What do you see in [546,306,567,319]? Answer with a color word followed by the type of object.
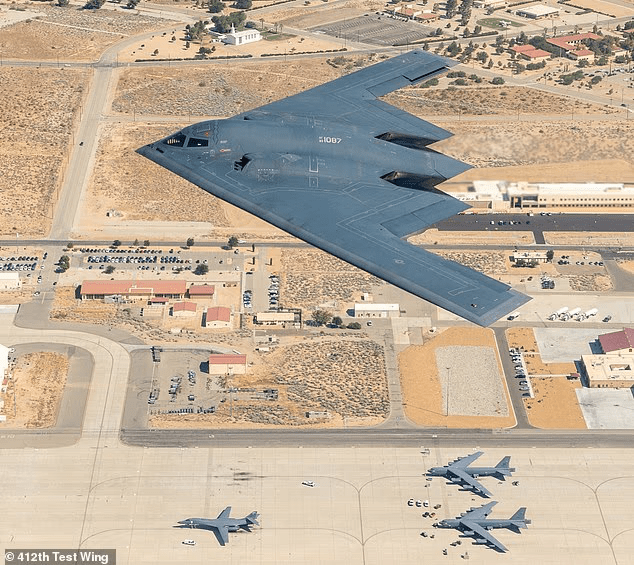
white vehicle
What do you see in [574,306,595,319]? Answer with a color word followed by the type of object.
white vehicle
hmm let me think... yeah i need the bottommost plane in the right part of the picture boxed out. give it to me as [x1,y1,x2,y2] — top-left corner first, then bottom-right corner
[435,499,529,551]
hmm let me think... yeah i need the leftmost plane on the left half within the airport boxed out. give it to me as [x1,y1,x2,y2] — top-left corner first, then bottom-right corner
[178,504,261,544]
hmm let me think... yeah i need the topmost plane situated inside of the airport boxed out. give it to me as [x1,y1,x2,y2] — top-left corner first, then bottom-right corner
[428,449,518,497]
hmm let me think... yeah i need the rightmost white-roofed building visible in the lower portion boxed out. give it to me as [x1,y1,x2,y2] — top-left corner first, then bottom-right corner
[580,353,634,387]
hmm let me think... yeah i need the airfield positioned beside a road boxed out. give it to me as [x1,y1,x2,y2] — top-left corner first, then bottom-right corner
[0,303,634,565]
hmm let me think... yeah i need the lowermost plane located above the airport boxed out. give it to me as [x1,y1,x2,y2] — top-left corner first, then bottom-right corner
[137,48,531,326]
